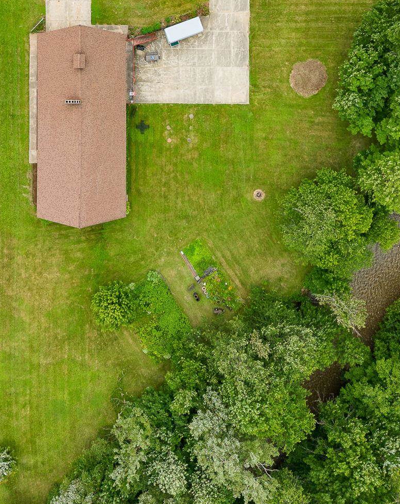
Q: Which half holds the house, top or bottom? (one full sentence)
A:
You can find the house in the top half.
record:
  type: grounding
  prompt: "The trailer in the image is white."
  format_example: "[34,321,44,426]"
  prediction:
[164,16,206,44]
